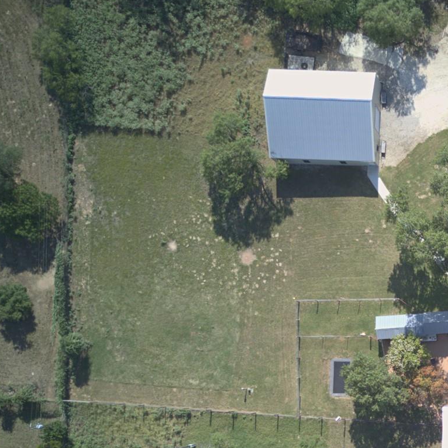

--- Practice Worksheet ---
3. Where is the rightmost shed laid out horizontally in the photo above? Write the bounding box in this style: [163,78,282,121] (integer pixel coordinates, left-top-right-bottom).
[375,311,448,339]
